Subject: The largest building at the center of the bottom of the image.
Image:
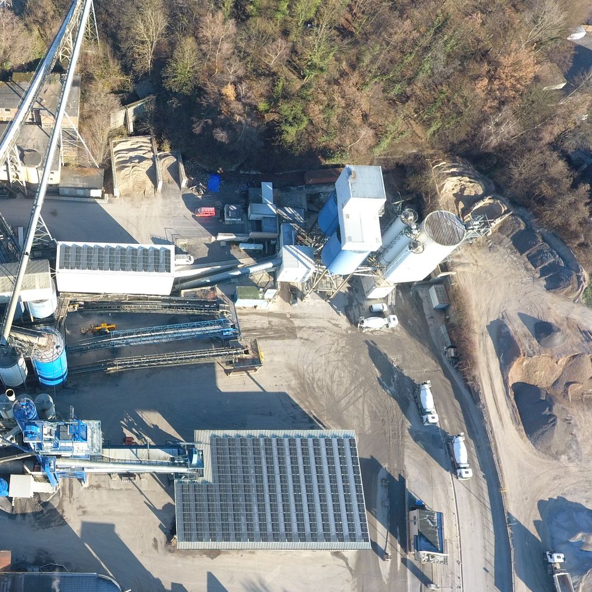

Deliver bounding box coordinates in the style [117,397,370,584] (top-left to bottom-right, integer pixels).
[173,431,372,551]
